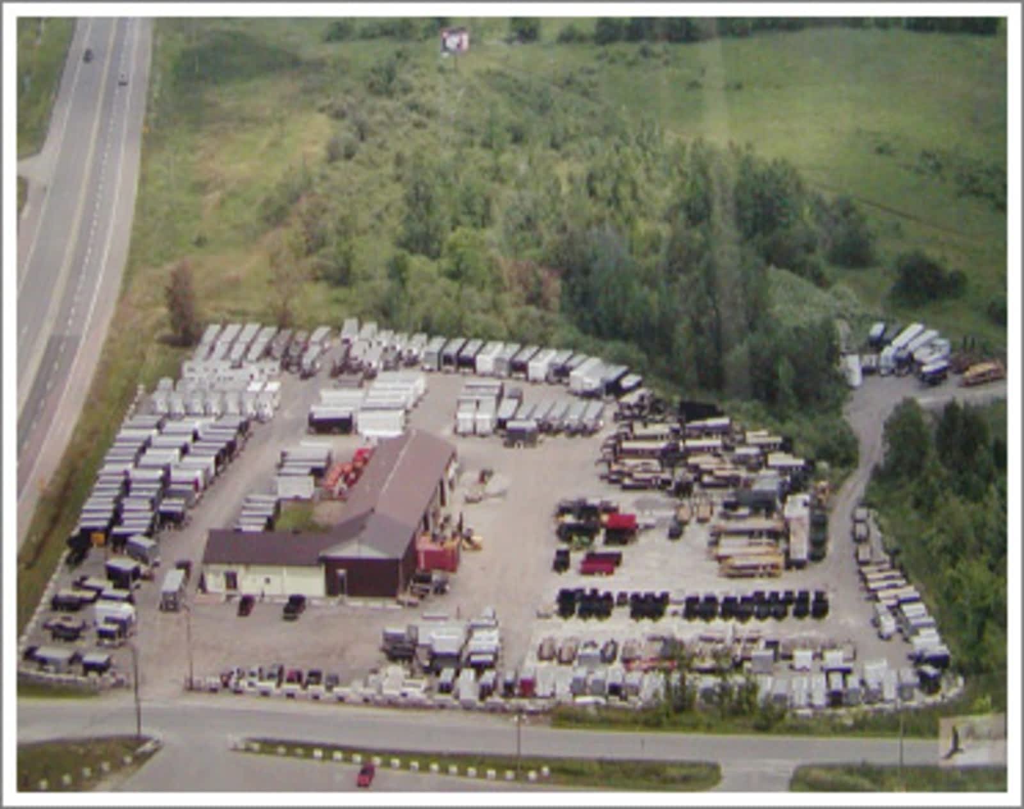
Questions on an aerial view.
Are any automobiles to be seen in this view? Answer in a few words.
Yes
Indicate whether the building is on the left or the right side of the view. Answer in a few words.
left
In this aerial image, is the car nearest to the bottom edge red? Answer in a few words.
Yes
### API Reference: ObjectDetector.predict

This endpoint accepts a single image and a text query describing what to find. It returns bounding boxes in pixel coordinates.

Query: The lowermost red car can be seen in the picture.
[353,760,379,786]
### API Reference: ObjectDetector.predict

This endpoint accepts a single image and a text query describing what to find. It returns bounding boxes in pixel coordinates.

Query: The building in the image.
[204,432,455,592]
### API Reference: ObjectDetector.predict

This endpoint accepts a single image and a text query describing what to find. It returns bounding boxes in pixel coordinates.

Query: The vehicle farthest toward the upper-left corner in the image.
[82,47,94,59]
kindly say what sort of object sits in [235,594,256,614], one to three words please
car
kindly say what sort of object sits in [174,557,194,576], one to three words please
vehicle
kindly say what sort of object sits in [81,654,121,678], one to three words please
trailer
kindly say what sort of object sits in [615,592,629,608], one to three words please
work vehicle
